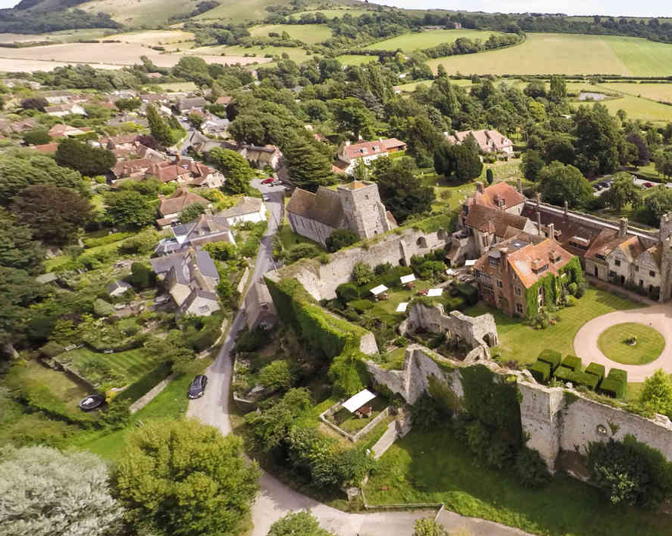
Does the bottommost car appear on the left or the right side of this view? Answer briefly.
left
